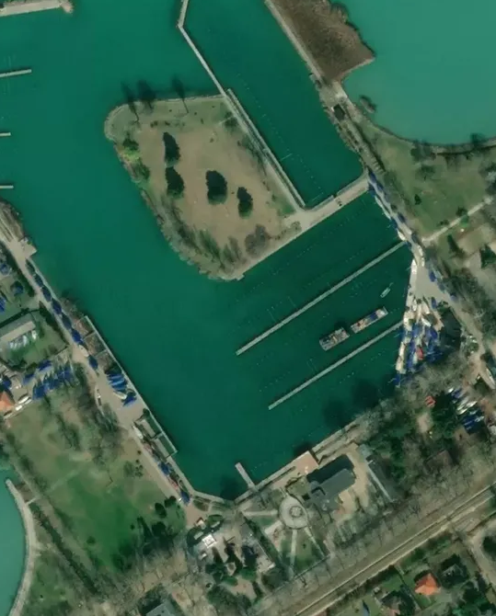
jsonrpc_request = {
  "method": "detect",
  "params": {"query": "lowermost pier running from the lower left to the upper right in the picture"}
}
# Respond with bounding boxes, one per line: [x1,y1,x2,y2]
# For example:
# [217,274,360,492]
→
[268,321,401,410]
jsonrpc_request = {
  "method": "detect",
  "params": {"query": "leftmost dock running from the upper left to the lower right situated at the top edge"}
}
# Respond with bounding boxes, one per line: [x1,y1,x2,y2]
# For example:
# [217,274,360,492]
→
[179,25,228,98]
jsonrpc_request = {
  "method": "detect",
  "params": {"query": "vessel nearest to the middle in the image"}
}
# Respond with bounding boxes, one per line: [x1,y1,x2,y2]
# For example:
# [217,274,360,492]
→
[320,323,350,347]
